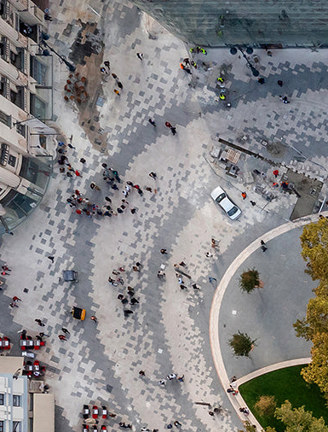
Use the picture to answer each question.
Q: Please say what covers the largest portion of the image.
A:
paved ground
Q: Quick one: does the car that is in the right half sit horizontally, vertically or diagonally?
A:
diagonally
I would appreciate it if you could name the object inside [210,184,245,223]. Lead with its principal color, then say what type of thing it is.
white car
